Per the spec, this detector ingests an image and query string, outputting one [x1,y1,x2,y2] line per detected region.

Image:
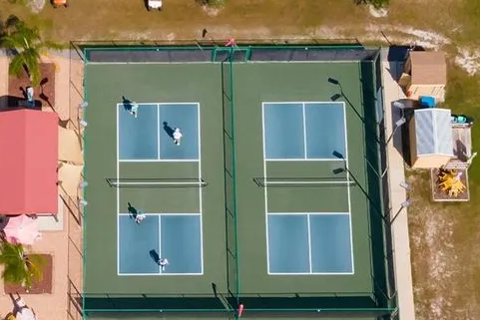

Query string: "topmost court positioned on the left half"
[84,60,237,312]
